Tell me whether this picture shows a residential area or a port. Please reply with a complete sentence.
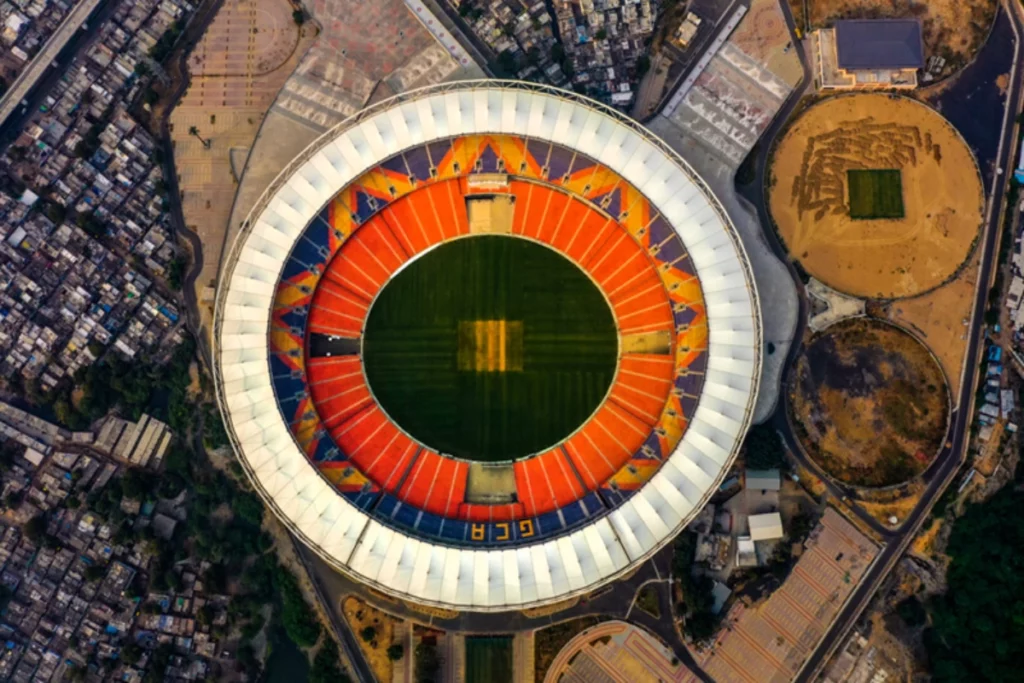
The area seen from above is a residential area.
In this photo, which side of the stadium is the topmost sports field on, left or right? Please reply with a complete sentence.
Looking at the picture, you'll find the topmost sports field to the right of the stadium.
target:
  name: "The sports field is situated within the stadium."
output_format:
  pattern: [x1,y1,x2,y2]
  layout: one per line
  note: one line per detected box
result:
[363,237,618,461]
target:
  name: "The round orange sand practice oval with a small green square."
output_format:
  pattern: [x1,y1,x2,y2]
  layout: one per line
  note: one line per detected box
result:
[770,94,983,297]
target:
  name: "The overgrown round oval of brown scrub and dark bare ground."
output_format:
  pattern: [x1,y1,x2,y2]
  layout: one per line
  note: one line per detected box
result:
[789,317,950,488]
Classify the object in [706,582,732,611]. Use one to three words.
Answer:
house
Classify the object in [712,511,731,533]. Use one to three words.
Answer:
building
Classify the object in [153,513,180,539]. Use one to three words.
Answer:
barn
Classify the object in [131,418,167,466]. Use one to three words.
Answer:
shed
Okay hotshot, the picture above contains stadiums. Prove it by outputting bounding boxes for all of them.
[212,79,763,612]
